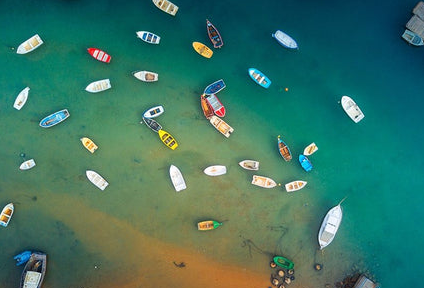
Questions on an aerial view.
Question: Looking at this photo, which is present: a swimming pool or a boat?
boat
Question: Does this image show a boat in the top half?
Yes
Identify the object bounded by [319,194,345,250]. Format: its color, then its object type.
white boat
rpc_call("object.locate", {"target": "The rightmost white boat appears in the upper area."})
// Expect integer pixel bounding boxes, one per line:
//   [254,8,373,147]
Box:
[342,96,366,123]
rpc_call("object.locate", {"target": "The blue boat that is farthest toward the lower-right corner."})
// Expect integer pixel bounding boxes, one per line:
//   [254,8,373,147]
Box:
[299,155,313,173]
